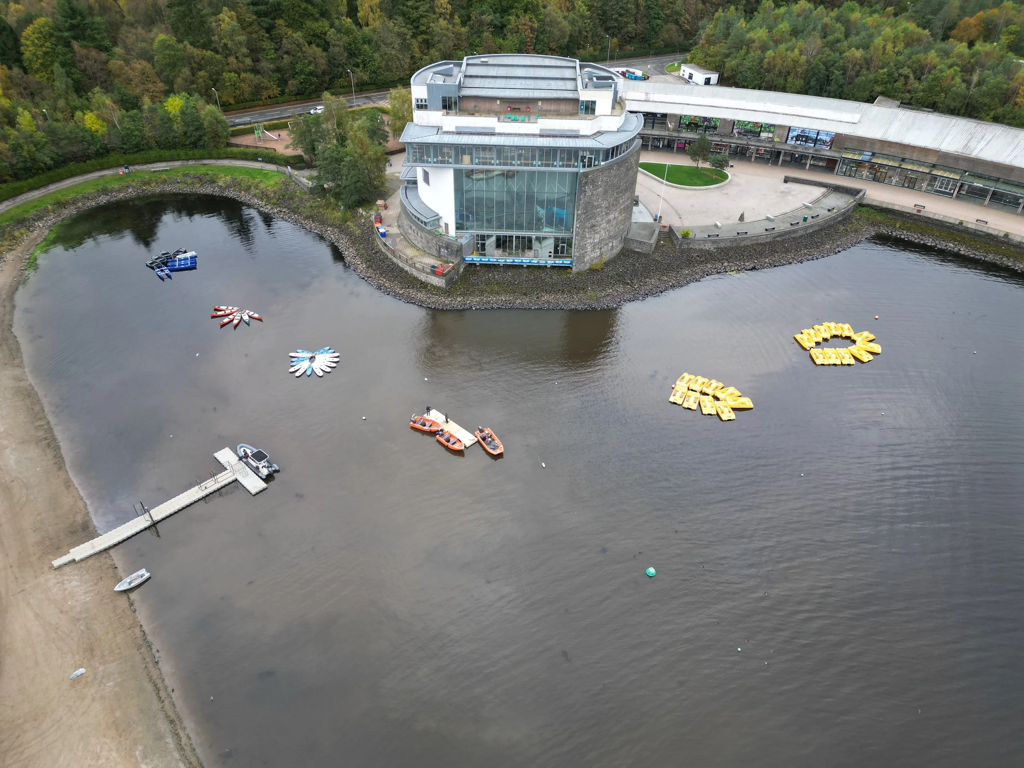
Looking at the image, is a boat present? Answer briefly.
Yes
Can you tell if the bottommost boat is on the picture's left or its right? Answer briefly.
left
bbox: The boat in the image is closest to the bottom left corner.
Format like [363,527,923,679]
[114,569,149,592]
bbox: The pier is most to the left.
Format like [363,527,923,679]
[54,448,265,572]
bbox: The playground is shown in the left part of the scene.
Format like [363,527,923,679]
[231,115,408,178]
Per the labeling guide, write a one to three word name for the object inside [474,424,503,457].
boat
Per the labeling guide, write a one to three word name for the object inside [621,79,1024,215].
building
